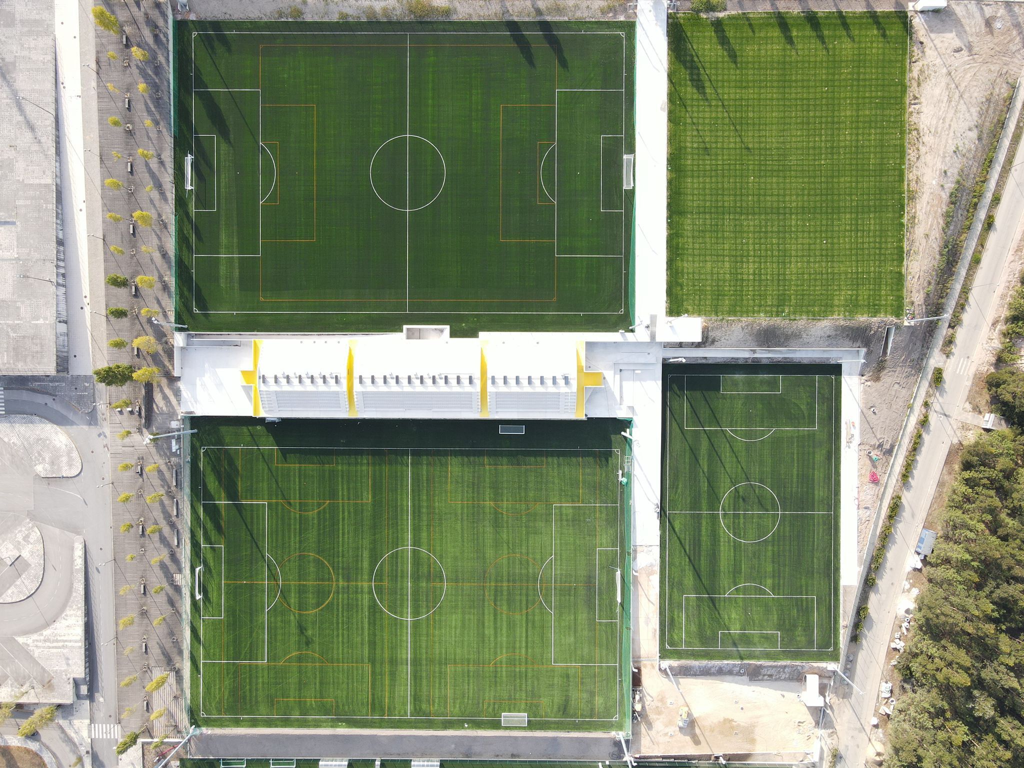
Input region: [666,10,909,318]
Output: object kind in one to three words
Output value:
sports field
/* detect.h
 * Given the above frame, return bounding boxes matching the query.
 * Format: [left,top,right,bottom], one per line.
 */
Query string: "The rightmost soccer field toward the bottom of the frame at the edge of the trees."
[660,364,842,662]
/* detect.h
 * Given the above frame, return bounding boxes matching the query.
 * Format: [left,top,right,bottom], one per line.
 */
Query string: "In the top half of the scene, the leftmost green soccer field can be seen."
[175,21,635,338]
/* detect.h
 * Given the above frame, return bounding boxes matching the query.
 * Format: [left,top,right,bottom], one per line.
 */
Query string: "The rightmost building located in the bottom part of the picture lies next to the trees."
[914,530,941,560]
